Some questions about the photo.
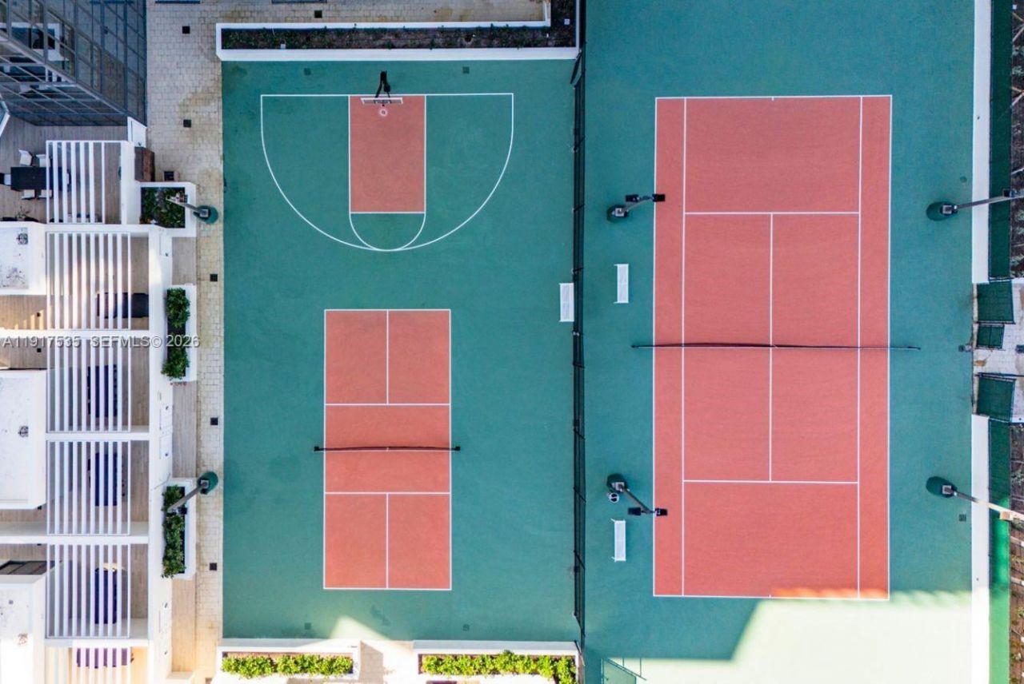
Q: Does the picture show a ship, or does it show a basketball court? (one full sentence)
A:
The image shows a basketball court.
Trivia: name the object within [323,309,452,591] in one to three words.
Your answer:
sports court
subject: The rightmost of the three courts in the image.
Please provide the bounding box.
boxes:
[574,0,973,684]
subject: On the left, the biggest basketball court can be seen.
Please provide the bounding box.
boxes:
[222,60,573,643]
